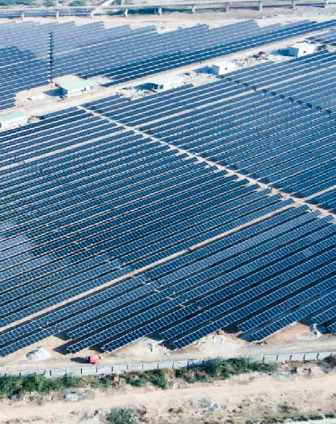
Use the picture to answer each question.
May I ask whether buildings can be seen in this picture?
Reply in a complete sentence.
Yes, there's a building here.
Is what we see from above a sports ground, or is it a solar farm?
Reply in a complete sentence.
This image shows a solar farm.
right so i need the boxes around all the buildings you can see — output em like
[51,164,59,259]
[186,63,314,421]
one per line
[210,59,235,74]
[0,110,28,130]
[288,41,316,57]
[59,78,98,97]
[149,75,186,93]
